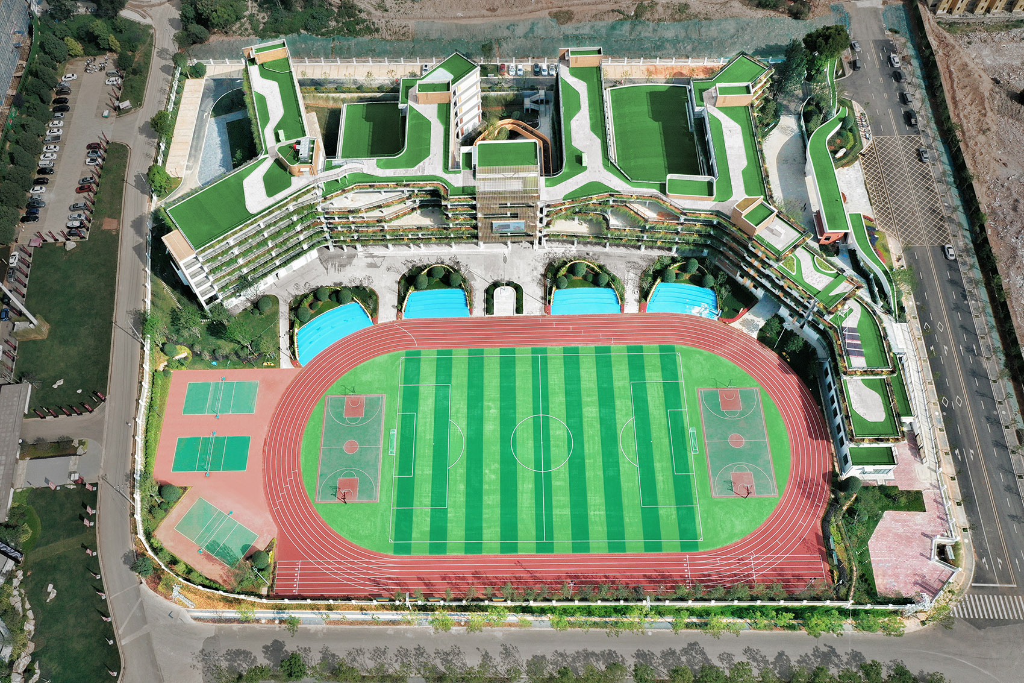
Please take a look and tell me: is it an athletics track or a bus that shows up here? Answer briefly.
athletics track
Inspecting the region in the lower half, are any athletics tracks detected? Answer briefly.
Yes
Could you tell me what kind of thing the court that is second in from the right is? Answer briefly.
basketball court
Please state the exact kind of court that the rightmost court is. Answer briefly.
basketball court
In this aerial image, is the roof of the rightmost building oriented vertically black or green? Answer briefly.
green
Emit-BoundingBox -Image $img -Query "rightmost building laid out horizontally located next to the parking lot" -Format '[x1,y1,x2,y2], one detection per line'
[161,40,915,484]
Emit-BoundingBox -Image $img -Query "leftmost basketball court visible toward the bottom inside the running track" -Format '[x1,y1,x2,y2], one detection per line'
[313,394,387,504]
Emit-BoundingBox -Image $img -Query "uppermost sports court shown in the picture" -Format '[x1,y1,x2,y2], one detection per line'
[182,381,259,415]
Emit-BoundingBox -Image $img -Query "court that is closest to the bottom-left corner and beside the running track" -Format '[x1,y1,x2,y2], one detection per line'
[174,497,259,568]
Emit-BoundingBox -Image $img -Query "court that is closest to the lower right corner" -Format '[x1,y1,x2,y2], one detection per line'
[697,388,779,498]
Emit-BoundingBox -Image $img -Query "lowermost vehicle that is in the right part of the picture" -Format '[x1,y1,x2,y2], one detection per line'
[944,244,956,260]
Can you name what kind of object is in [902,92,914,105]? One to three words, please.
vehicle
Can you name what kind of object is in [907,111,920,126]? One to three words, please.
vehicle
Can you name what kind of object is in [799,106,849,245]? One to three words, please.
building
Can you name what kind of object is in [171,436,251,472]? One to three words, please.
sports court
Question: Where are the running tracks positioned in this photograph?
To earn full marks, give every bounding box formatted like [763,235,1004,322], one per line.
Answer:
[263,315,837,597]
